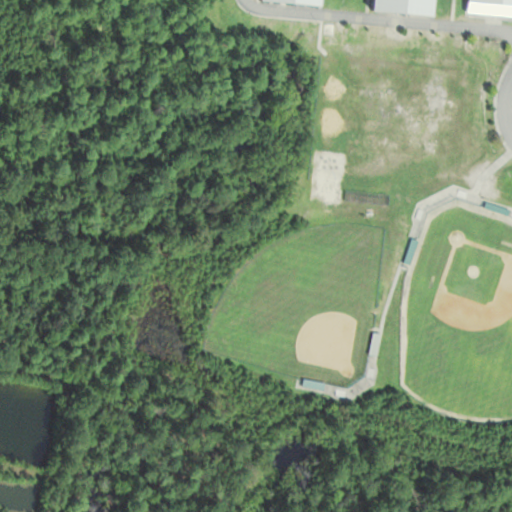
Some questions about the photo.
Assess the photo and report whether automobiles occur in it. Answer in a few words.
No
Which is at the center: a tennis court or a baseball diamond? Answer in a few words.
baseball diamond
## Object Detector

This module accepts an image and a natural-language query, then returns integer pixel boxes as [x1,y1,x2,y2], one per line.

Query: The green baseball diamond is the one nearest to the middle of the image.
[204,222,384,388]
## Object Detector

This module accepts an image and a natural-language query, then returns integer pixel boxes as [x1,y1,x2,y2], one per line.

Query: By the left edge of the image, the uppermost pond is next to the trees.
[0,384,52,468]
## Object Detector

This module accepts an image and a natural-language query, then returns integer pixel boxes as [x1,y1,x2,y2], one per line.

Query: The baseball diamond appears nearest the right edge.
[400,200,512,423]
